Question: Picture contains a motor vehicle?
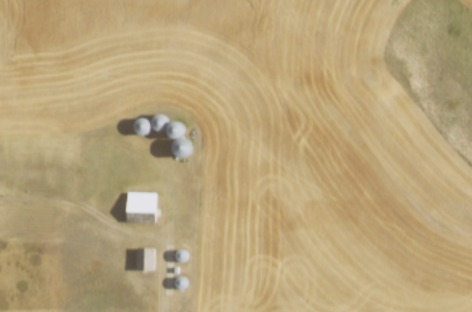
No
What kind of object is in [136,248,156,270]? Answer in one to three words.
shed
